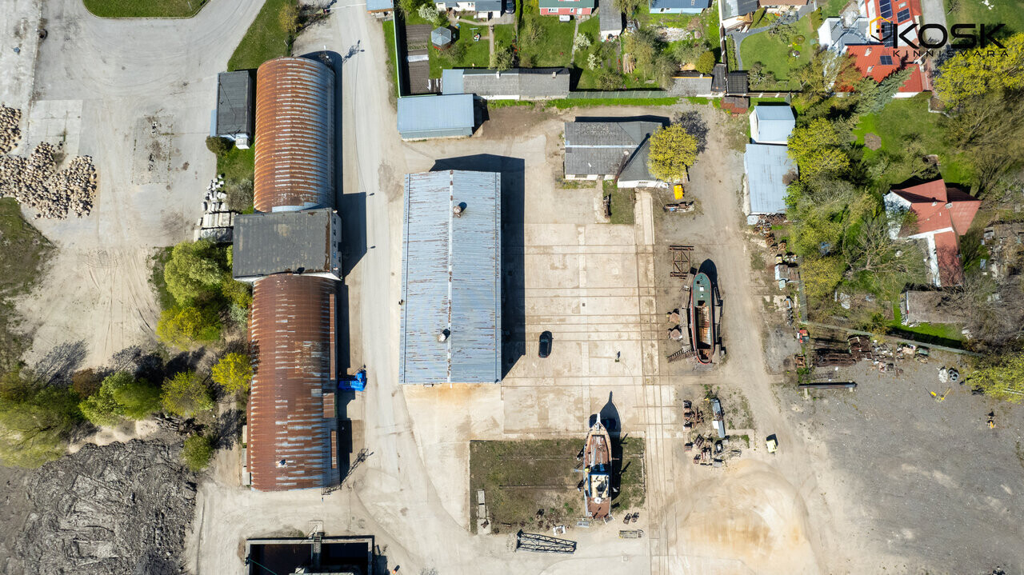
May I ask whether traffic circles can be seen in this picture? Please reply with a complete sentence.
No, I can't see a single traffic circle in this photo.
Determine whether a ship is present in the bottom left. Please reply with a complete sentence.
No, there's no ship to be seen in the bottom left.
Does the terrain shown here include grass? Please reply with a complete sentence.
Yes, grass can be seen from above here.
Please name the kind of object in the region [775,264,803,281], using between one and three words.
shed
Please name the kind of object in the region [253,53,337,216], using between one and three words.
building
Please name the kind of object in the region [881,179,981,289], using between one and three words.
house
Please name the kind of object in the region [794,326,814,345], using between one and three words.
work vehicle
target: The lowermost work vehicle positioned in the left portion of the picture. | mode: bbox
[339,367,363,390]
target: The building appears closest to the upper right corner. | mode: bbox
[822,0,931,100]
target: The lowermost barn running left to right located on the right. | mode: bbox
[899,291,970,326]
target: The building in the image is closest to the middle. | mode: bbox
[399,170,502,387]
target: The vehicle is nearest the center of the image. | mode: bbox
[539,331,552,356]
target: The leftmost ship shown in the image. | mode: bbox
[573,413,620,524]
